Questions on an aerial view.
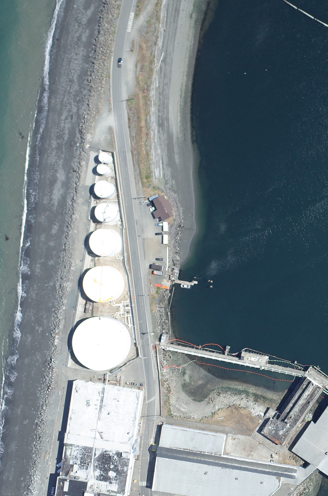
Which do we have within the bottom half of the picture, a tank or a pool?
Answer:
tank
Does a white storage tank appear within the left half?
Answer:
Yes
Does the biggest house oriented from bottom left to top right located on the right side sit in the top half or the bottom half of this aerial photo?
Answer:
bottom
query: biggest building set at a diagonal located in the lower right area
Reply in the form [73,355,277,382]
[251,377,325,445]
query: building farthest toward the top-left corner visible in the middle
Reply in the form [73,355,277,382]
[153,195,174,221]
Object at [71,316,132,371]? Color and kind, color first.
white storage tank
